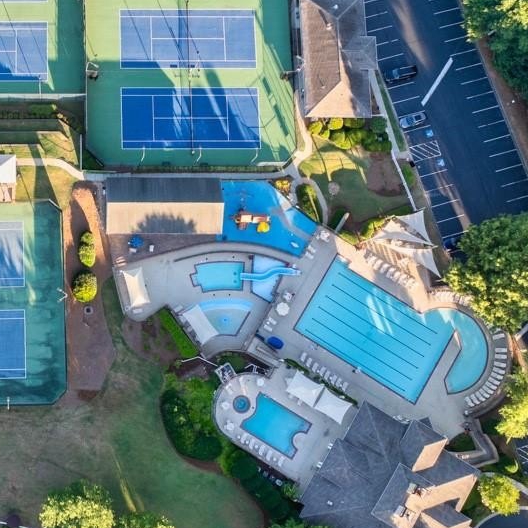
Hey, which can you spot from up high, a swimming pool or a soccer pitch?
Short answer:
swimming pool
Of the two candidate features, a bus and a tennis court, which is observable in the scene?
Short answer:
tennis court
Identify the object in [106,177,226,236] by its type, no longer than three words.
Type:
building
